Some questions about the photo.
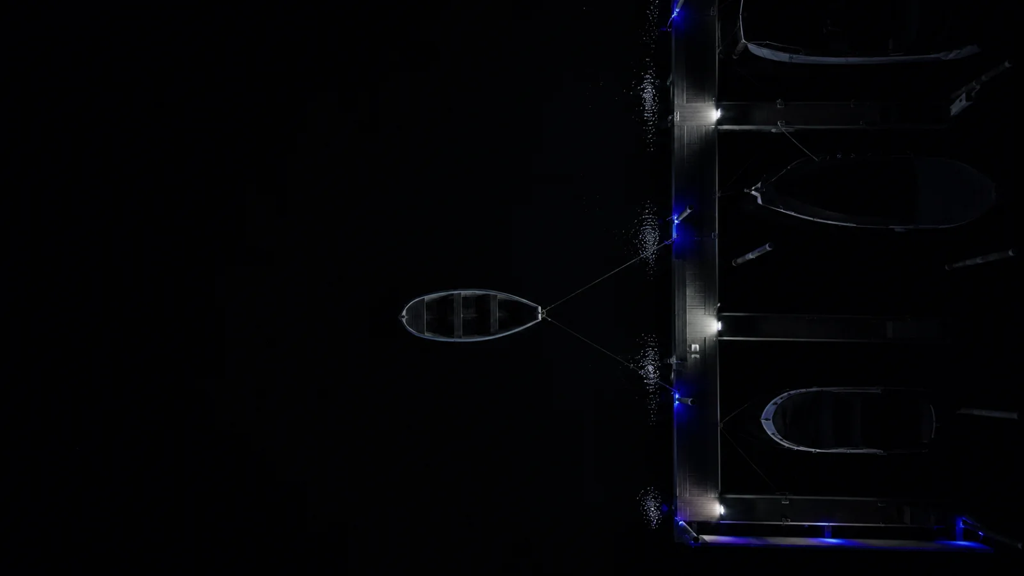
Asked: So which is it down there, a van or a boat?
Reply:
boat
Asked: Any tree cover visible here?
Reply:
No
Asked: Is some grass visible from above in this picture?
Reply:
No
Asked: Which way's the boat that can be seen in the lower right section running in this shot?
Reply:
from left to right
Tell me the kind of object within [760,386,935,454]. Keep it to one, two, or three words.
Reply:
boat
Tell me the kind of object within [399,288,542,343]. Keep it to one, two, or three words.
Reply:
boat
